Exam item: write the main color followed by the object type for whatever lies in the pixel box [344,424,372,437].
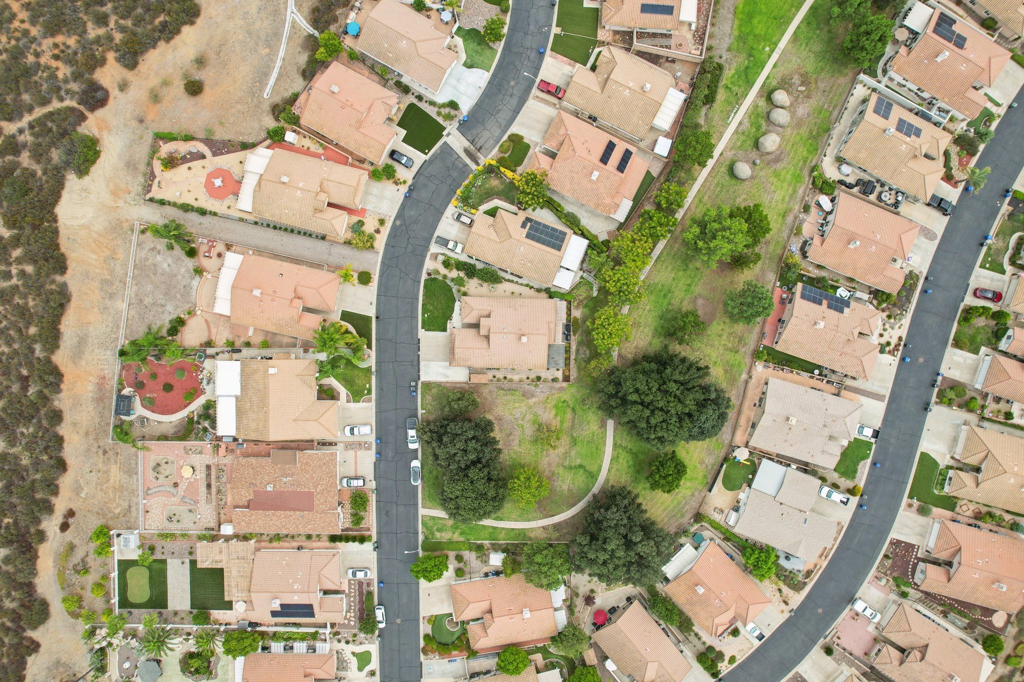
white vehicle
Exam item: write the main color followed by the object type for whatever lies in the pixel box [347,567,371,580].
white vehicle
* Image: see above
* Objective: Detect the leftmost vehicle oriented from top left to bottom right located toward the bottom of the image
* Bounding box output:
[744,622,768,644]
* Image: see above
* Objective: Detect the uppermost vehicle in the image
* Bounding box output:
[536,78,565,100]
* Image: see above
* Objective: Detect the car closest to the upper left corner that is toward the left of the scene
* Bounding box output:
[389,149,414,169]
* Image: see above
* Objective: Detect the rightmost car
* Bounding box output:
[972,288,1003,302]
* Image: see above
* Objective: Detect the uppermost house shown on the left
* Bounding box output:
[357,0,458,97]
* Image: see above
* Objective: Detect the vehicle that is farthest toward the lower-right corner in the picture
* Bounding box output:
[850,597,884,624]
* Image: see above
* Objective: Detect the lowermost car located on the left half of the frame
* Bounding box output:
[374,605,386,628]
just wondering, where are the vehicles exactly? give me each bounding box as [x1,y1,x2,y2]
[818,485,852,507]
[406,417,417,449]
[452,211,475,227]
[409,459,421,485]
[850,597,884,624]
[744,622,768,644]
[972,288,1003,302]
[341,476,366,488]
[374,605,386,628]
[433,233,465,253]
[344,424,372,437]
[536,78,565,100]
[856,424,883,441]
[347,567,371,580]
[928,193,958,215]
[389,149,414,169]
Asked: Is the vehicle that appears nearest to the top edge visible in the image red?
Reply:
Yes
